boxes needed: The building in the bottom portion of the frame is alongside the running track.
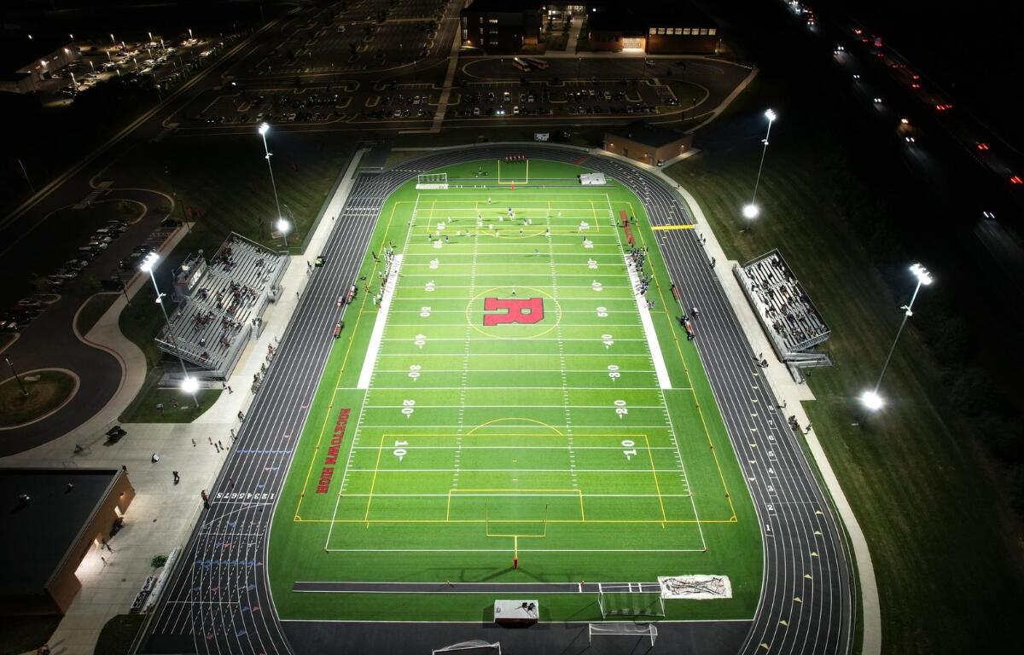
[0,463,137,614]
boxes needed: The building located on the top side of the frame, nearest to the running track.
[605,121,697,166]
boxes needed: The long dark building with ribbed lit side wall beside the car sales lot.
[0,34,93,96]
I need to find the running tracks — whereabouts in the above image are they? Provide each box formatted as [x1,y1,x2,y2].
[135,147,849,655]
